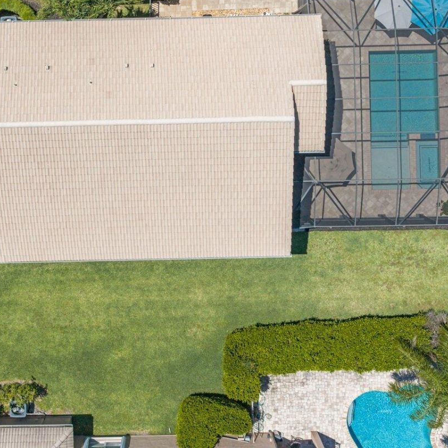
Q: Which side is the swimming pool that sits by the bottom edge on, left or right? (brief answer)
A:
right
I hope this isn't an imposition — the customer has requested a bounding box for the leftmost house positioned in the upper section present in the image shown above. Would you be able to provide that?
[0,12,328,265]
